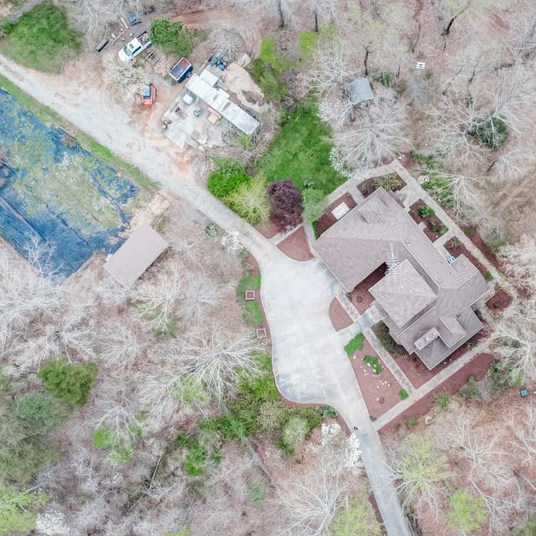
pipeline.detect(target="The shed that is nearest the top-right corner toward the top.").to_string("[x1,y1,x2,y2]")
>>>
[349,79,373,108]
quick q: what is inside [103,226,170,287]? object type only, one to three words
shed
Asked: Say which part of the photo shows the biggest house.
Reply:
right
